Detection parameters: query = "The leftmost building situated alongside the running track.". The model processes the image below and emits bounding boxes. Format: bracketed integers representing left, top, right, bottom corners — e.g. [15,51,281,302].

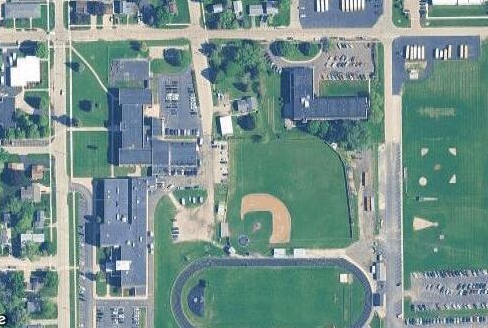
[100,179,147,288]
